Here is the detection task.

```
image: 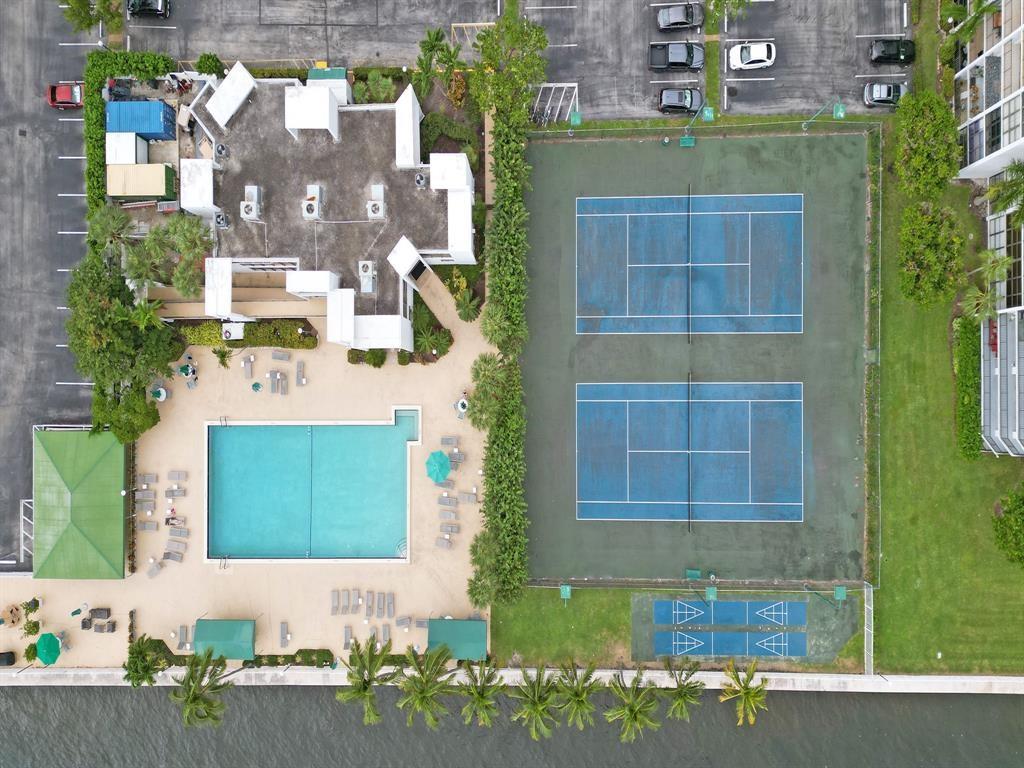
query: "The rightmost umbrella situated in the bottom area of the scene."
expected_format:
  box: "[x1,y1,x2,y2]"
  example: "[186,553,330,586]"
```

[427,449,451,482]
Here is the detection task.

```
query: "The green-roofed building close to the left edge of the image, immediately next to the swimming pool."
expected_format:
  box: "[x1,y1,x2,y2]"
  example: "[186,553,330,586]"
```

[33,422,137,579]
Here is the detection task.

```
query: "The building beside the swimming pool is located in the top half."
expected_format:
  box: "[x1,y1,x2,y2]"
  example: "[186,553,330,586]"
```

[181,62,475,351]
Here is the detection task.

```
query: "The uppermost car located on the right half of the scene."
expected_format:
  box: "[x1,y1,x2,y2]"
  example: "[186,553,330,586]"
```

[655,1,705,34]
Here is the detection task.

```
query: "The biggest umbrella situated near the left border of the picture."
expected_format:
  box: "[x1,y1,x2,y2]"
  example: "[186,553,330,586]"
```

[41,630,69,662]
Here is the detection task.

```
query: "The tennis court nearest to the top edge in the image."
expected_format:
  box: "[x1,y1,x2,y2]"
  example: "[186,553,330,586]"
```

[529,134,866,358]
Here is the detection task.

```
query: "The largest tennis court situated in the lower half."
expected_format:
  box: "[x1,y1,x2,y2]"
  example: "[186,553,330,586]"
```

[529,358,866,581]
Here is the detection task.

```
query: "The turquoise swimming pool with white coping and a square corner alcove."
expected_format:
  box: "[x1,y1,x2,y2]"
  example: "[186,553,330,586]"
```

[206,406,421,563]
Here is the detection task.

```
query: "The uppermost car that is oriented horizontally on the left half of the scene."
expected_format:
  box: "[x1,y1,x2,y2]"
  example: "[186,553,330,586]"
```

[125,0,175,20]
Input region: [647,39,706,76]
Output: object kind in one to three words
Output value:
vehicle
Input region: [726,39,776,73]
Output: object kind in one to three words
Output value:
car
